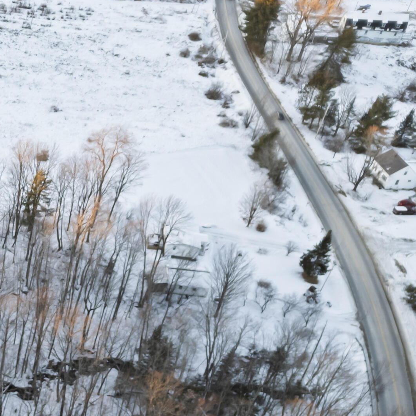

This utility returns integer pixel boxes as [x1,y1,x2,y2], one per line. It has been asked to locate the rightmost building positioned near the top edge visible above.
[331,5,414,47]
